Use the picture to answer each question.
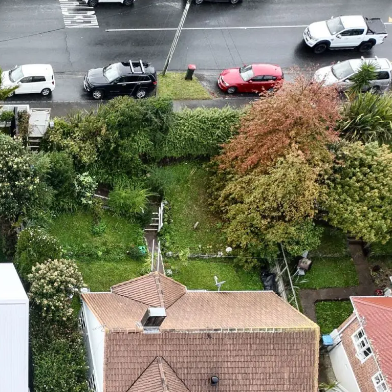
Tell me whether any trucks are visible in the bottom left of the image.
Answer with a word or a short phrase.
No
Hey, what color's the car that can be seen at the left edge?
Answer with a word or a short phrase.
white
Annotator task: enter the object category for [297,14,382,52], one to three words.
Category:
truck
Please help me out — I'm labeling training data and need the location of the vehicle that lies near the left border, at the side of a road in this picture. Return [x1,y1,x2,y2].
[0,61,55,94]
